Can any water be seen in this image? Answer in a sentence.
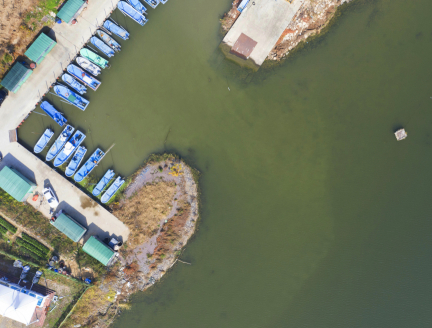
Yes, water can be seen from above here.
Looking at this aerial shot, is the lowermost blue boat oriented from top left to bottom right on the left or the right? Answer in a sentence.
It is on the left.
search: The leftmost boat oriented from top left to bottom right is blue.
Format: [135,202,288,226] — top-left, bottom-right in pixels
[38,101,71,129]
